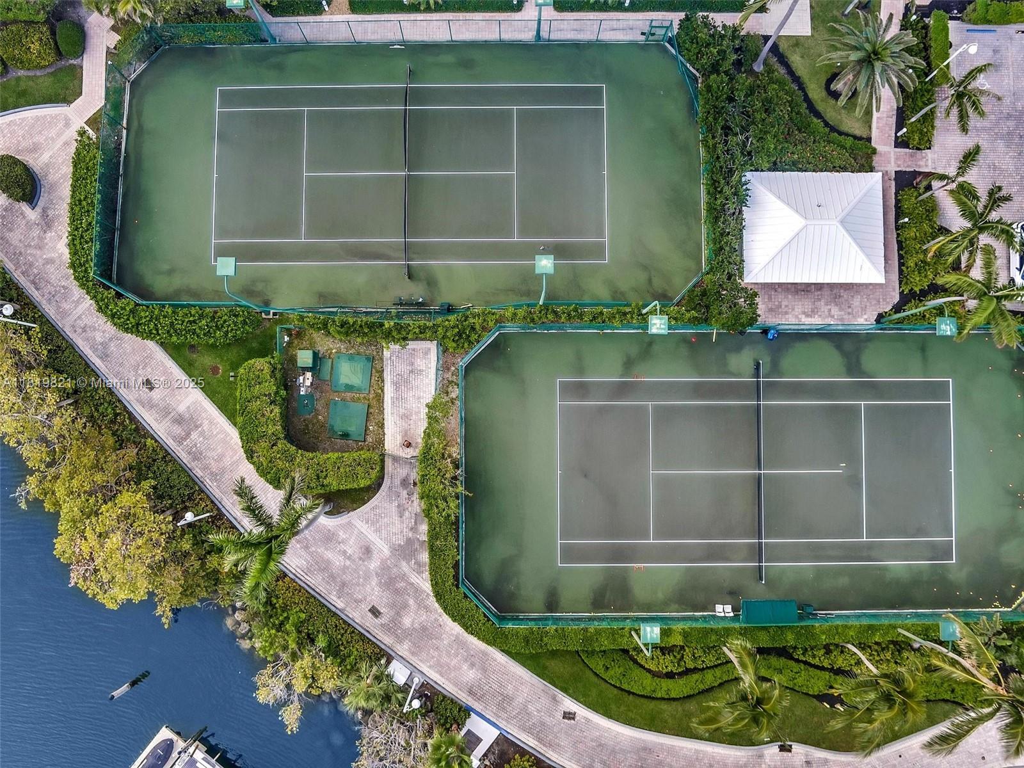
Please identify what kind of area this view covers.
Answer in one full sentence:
This looks like a sports ground.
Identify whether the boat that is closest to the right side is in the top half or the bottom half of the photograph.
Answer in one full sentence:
Seen from above, the boat that is closest to the right side lies in the bottom half of the view.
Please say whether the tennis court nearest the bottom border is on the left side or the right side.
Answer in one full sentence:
It is on the right.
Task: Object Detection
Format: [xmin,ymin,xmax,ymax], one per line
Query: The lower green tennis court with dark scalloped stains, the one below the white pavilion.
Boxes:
[464,334,1024,614]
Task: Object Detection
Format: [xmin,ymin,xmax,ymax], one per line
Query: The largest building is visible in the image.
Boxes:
[737,170,887,288]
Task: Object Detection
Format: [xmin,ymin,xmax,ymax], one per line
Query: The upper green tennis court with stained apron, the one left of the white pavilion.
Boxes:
[115,42,704,309]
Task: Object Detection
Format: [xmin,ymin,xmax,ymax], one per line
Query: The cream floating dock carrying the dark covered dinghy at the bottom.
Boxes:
[127,722,188,768]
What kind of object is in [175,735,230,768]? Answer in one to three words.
boat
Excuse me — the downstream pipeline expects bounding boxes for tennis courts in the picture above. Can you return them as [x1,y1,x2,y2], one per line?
[464,334,1024,614]
[115,42,704,309]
